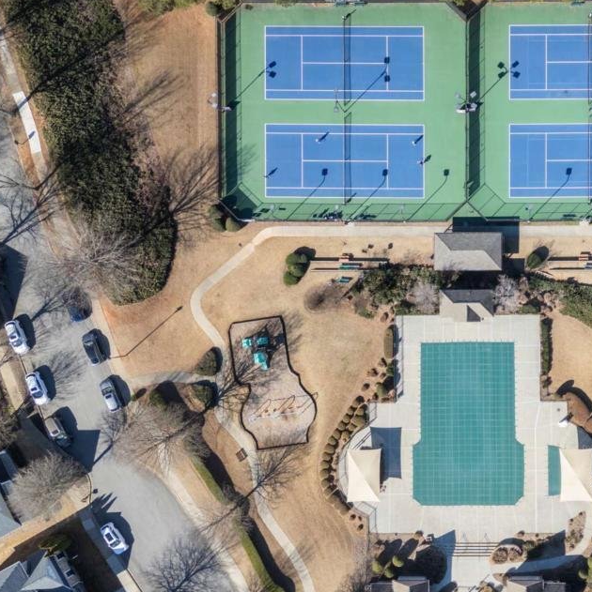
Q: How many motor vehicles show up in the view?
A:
7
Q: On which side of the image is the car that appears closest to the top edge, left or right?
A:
left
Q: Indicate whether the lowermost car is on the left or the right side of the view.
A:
left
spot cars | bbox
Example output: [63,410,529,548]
[6,321,29,354]
[101,522,125,556]
[45,414,70,447]
[68,288,89,321]
[81,329,105,364]
[25,372,47,405]
[99,377,121,412]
